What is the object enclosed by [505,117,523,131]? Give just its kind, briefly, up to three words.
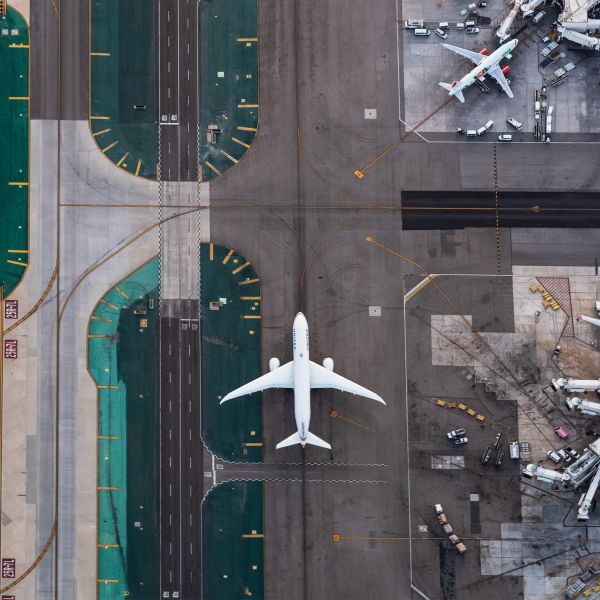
vehicle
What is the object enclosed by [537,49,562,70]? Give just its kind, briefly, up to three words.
work vehicle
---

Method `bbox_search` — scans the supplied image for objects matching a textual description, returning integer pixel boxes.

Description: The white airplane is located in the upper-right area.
[442,40,517,104]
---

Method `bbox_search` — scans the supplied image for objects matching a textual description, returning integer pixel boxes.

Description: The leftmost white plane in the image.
[219,312,384,451]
